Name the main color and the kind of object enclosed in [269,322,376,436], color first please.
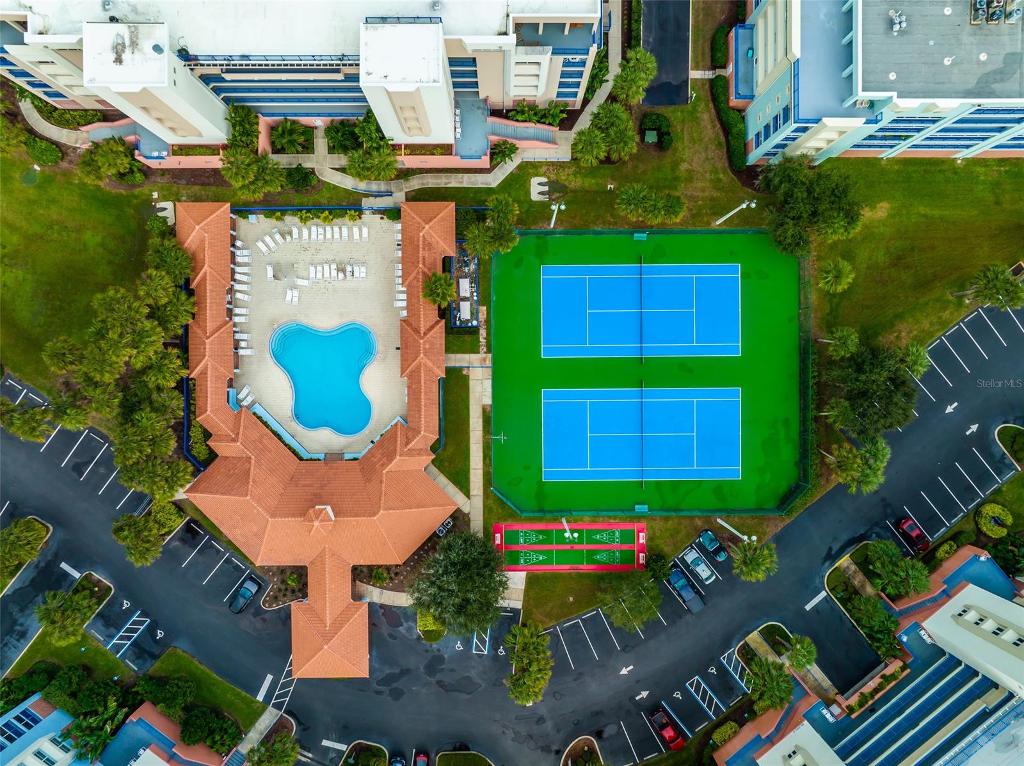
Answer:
blue swimming pool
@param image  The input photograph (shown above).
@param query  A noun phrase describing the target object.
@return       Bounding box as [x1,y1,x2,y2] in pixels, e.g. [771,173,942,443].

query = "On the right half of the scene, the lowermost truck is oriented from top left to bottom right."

[646,707,685,752]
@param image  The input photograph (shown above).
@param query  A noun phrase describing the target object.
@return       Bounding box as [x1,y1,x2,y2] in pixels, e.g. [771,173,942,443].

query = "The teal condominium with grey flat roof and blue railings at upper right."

[727,0,1024,166]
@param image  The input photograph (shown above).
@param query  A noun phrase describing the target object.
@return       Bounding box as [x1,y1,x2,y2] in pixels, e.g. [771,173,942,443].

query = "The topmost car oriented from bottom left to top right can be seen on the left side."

[228,576,263,616]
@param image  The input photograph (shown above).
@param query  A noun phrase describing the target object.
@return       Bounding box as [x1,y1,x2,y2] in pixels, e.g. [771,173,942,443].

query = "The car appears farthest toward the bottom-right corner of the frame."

[893,516,928,553]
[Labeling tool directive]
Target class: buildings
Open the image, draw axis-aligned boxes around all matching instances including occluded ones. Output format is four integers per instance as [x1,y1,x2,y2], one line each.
[175,201,457,679]
[0,693,250,766]
[0,0,604,165]
[727,0,1024,166]
[709,545,1024,766]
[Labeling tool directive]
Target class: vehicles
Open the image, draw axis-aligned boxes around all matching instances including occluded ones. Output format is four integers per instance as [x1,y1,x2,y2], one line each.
[390,752,407,766]
[682,546,719,587]
[228,576,263,616]
[697,526,730,565]
[665,567,707,615]
[646,707,685,752]
[411,749,430,766]
[893,516,928,553]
